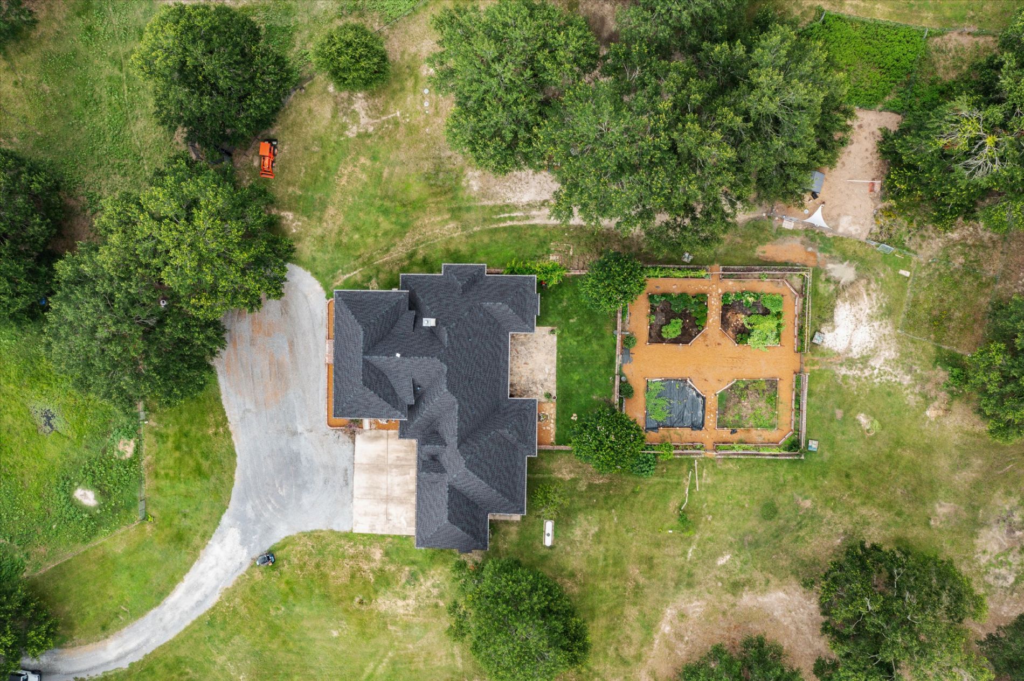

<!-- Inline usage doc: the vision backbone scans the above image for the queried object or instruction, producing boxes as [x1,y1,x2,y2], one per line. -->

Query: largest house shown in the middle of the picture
[333,264,539,553]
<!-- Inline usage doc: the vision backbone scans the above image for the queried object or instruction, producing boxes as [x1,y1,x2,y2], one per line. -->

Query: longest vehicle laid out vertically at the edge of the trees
[256,134,280,179]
